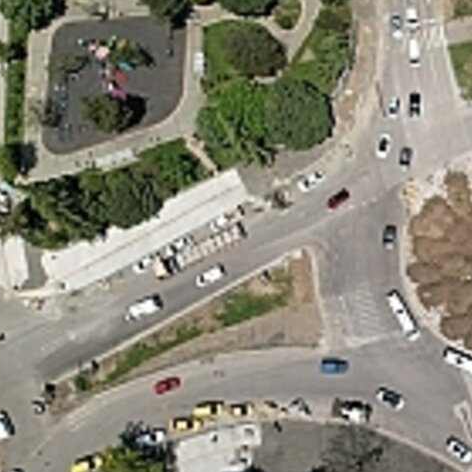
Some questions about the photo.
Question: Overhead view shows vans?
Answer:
Yes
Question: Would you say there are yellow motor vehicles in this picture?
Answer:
Yes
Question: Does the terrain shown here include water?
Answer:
No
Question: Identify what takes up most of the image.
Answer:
paved ground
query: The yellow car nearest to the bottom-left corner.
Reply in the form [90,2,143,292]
[70,452,105,472]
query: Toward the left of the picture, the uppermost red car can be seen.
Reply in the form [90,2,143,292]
[152,376,183,395]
